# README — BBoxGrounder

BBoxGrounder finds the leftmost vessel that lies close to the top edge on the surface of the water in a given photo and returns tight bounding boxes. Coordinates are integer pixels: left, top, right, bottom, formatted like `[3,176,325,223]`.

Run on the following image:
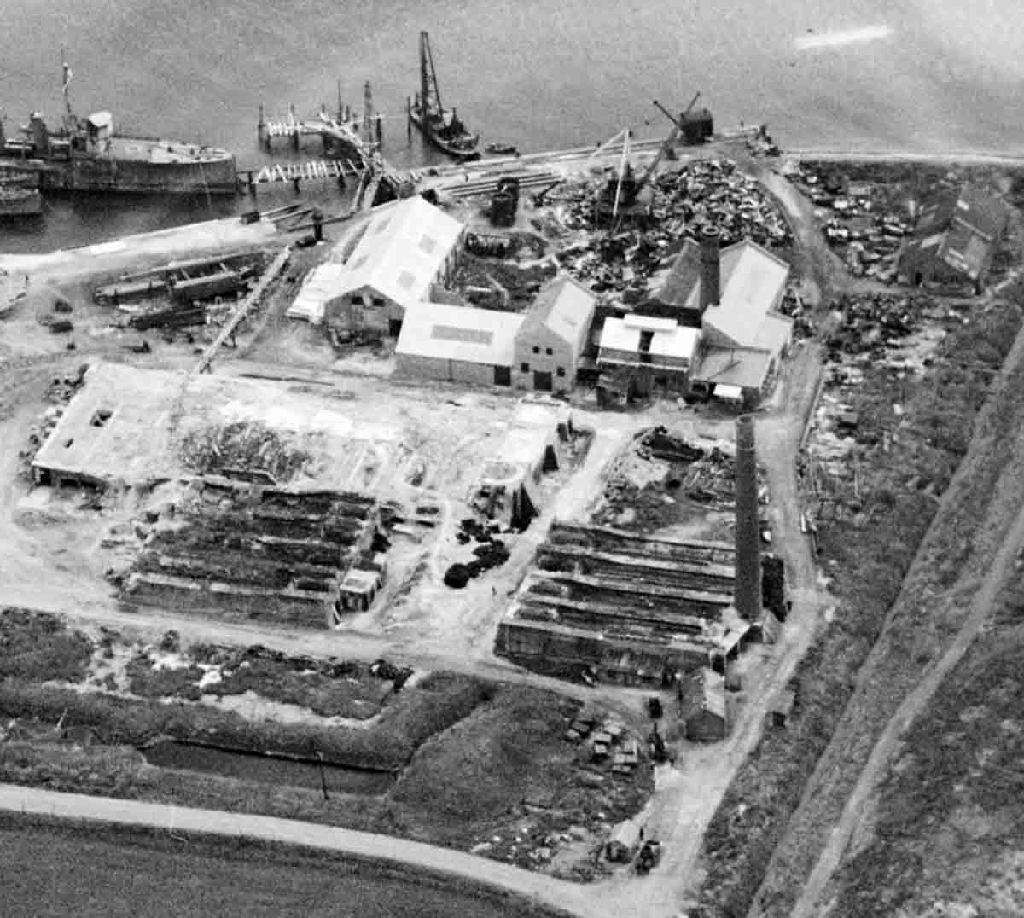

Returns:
[0,45,240,203]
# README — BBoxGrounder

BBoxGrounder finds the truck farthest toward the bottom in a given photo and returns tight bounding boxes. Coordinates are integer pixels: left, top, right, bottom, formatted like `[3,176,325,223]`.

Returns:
[636,833,668,867]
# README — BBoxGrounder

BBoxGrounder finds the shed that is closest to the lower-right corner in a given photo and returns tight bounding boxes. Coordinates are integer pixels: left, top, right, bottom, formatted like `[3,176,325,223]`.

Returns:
[766,684,802,730]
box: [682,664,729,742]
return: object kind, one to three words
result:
shed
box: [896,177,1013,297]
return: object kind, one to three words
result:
building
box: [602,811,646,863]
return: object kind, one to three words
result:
shed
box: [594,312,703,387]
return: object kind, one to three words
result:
building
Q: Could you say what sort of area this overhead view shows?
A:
port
